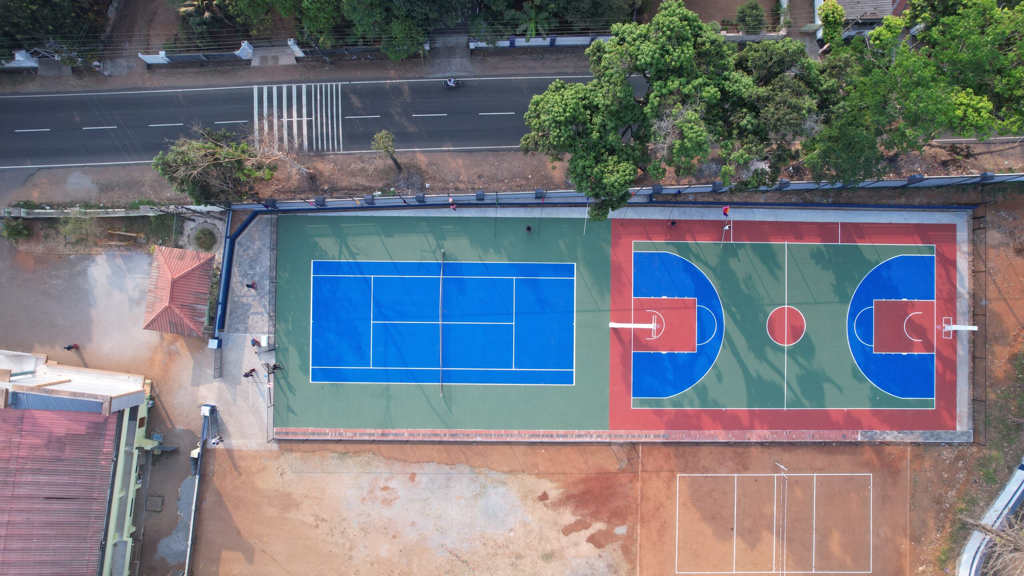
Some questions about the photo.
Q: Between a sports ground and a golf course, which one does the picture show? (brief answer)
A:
sports ground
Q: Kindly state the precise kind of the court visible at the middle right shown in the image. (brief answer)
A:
basketball court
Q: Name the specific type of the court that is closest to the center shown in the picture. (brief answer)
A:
tennis court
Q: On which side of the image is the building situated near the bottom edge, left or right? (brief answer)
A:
left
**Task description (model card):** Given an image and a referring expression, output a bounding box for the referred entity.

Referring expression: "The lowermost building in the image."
[0,348,178,576]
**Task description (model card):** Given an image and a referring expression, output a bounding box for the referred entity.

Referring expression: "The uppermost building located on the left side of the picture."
[141,245,217,338]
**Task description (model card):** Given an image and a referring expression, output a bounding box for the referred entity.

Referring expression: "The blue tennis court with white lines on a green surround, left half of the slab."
[275,216,611,430]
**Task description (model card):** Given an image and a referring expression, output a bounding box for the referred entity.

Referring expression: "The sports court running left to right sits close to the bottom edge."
[637,445,910,576]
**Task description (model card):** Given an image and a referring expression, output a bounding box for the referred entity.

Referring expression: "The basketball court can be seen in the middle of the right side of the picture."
[609,219,957,431]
